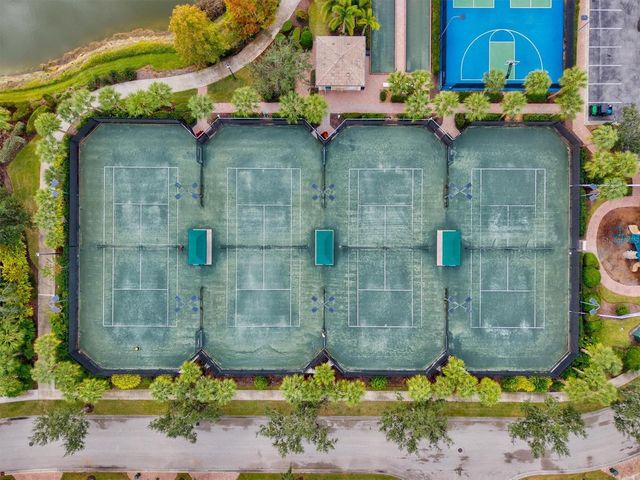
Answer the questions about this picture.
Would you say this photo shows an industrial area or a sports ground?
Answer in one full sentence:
This image shows a sports ground.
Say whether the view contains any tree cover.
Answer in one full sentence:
Yes, there's tree cover in this view.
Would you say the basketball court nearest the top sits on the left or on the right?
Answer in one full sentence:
The basketball court nearest the top appears in the right half of the scene.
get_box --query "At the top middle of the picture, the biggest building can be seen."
[315,36,366,89]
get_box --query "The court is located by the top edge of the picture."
[446,0,562,85]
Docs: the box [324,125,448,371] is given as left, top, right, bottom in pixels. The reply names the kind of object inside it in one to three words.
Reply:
tennis court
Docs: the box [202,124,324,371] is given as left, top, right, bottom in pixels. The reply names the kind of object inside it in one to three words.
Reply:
tennis court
